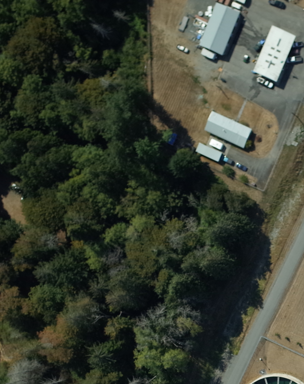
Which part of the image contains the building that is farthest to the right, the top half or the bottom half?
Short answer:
top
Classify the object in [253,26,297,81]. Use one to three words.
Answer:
building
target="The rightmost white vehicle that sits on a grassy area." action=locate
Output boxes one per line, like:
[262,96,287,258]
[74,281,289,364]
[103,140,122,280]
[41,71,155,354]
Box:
[207,137,224,151]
